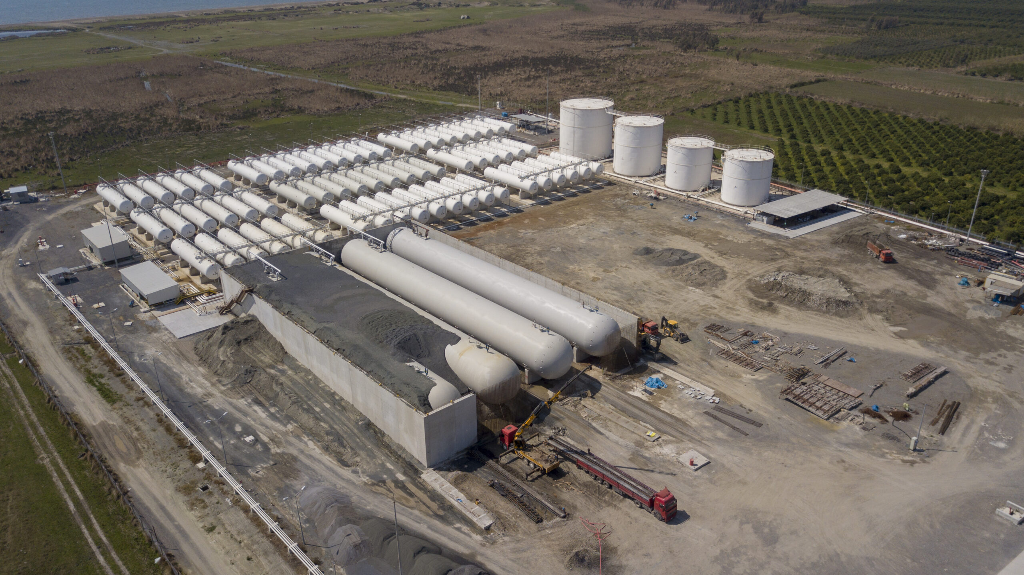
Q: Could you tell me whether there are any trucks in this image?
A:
Yes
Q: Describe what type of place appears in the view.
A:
industrial area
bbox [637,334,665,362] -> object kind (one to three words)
work vehicle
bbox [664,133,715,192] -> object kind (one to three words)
storage tank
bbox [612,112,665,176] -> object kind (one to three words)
storage tank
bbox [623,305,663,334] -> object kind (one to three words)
truck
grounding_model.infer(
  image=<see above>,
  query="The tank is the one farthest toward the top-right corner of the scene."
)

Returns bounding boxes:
[719,145,776,208]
